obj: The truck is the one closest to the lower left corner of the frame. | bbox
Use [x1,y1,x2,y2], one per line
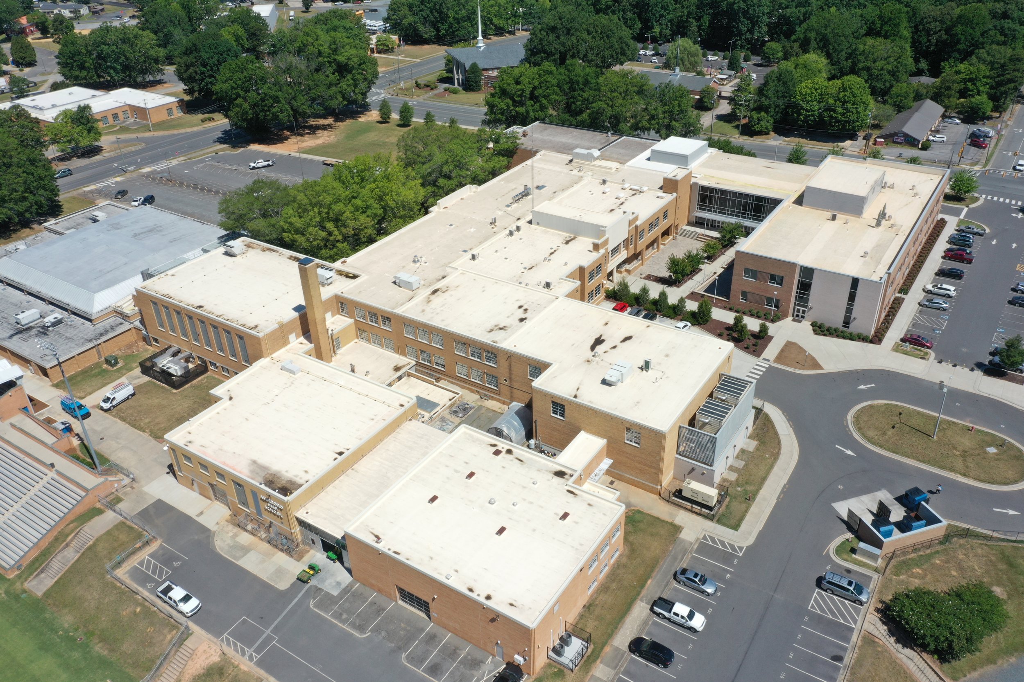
[151,585,202,622]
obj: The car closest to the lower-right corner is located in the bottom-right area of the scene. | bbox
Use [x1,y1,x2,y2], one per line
[821,574,872,609]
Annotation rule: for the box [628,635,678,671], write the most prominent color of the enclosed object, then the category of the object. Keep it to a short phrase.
black car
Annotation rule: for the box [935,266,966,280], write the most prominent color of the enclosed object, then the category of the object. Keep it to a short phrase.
black car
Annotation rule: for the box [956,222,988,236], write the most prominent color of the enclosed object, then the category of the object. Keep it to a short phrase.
gray vehicle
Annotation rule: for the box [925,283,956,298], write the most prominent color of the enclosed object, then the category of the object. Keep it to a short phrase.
white car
